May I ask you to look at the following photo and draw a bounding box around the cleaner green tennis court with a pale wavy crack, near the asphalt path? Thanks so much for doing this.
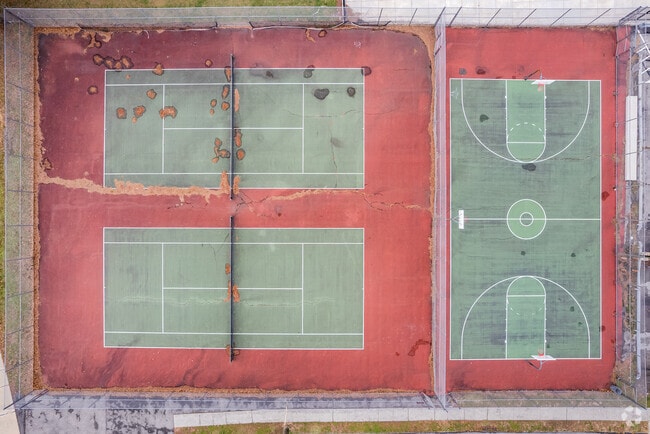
[103,228,364,350]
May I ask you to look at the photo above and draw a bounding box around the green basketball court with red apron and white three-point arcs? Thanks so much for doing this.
[435,27,632,391]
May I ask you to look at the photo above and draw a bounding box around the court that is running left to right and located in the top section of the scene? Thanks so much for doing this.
[103,67,365,189]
